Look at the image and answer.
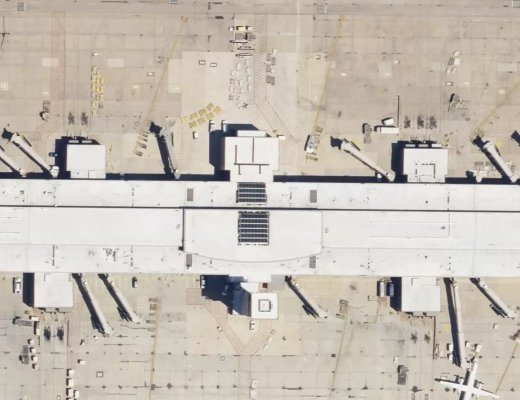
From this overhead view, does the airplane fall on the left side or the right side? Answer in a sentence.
The airplane appears in the right half of the scene.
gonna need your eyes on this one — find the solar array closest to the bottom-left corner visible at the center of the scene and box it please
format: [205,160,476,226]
[238,212,269,244]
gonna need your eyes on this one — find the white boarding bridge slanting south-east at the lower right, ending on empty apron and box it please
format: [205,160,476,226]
[474,277,519,320]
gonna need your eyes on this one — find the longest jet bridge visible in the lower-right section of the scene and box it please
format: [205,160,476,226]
[451,277,470,372]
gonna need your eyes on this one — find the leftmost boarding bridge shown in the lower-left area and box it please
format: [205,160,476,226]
[79,273,117,339]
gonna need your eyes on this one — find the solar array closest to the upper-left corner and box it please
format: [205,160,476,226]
[237,181,267,205]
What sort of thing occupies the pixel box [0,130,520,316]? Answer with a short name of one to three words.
building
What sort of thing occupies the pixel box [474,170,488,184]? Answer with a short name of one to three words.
jet bridge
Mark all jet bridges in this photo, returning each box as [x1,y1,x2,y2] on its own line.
[0,144,27,179]
[451,277,470,372]
[8,130,58,179]
[477,138,516,184]
[79,273,117,339]
[104,273,143,326]
[474,277,519,320]
[336,142,392,183]
[474,170,488,184]
[159,130,180,181]
[286,275,331,321]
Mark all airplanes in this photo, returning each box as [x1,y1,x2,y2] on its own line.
[439,358,497,400]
